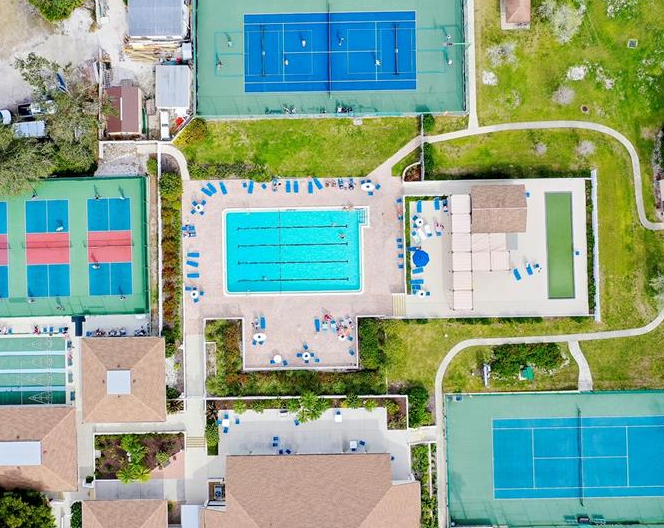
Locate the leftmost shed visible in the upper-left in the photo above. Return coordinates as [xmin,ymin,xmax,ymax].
[106,87,142,136]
